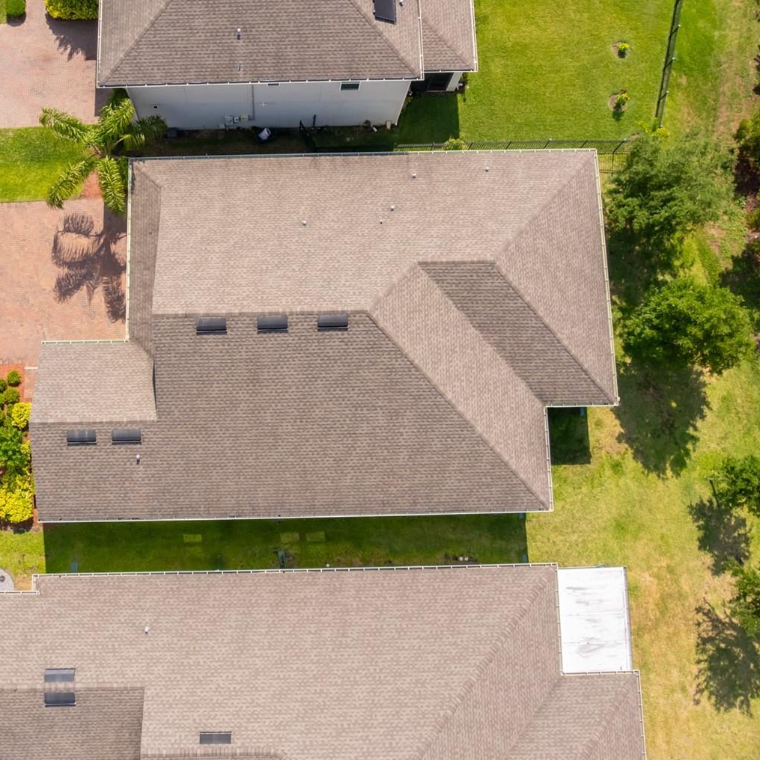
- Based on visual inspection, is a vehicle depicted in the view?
No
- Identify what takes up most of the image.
buildings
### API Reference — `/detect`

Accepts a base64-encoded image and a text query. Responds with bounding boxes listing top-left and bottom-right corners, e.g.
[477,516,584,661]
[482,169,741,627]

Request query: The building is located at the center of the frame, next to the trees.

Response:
[29,147,622,523]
